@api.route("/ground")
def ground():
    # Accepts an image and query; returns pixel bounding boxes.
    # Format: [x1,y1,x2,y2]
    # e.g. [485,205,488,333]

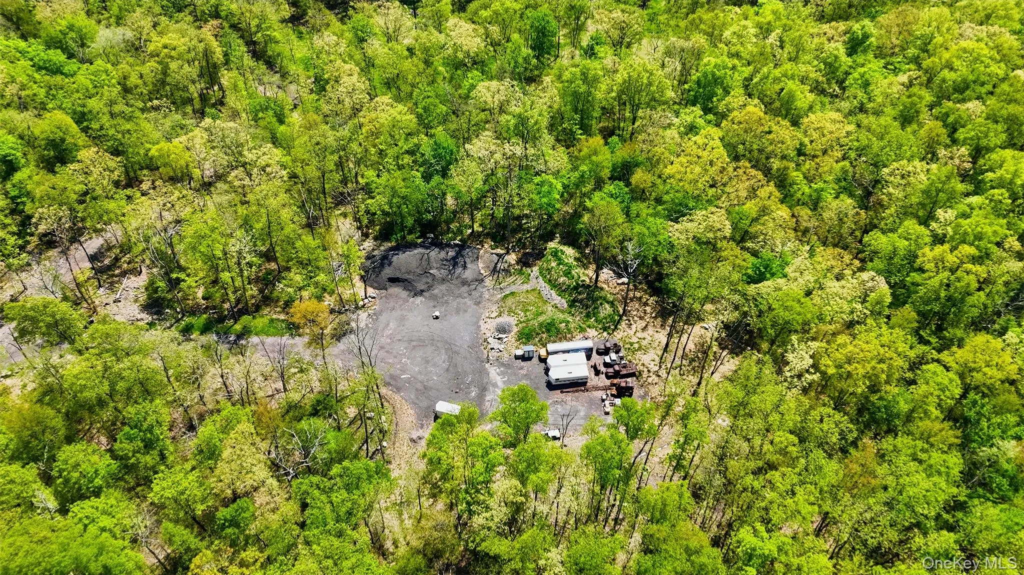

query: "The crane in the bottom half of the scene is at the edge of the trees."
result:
[559,377,636,397]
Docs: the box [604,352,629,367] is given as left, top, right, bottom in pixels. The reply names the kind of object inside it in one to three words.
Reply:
vehicle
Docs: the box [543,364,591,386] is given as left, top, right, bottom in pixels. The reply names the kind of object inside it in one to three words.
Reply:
trailer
